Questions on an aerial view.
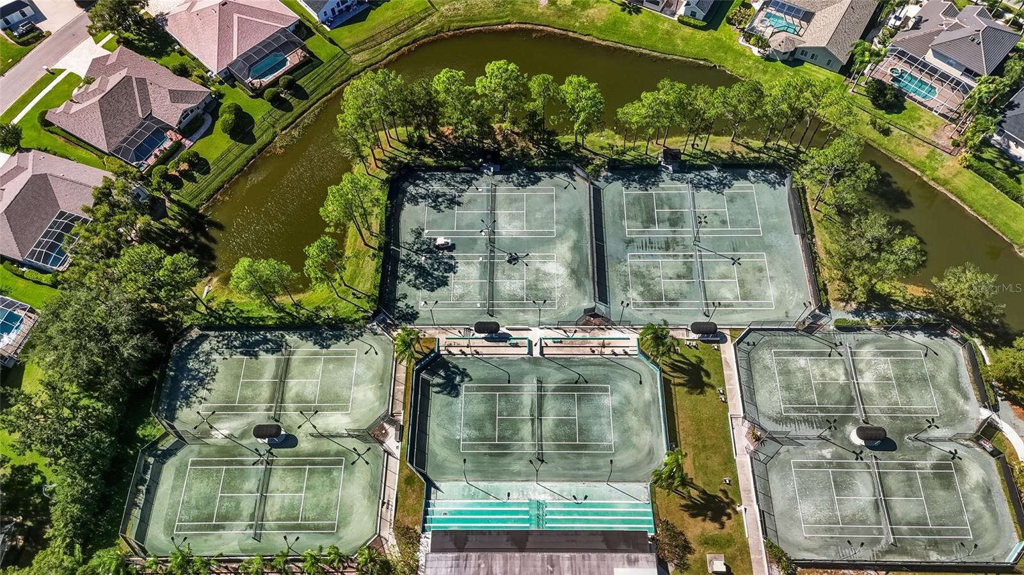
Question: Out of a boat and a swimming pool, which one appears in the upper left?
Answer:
swimming pool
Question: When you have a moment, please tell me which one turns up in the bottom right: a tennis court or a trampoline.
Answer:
tennis court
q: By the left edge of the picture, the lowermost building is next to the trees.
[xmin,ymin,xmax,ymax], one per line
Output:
[0,150,115,262]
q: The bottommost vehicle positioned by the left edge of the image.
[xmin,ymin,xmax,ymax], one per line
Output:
[13,21,35,34]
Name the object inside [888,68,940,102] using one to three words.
swimming pool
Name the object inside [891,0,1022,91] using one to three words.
house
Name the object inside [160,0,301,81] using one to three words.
house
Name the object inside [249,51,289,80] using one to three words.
swimming pool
